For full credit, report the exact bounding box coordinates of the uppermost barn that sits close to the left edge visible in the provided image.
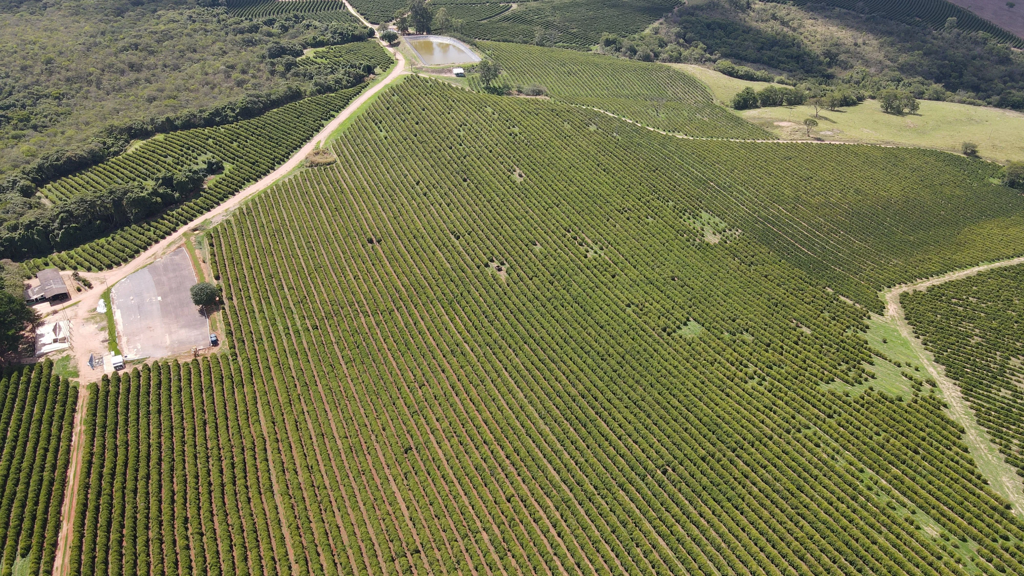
[21,266,69,310]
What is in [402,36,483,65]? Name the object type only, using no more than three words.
pond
